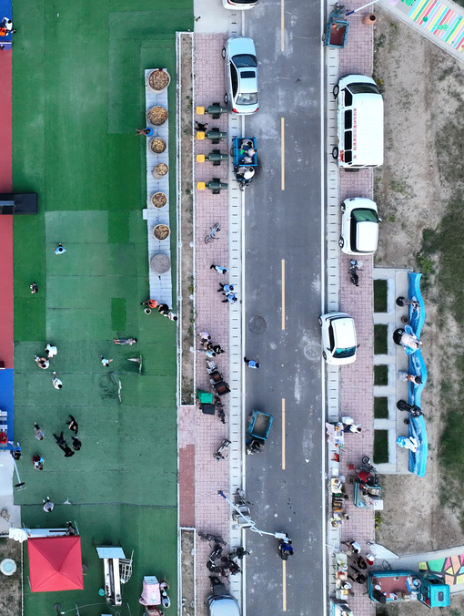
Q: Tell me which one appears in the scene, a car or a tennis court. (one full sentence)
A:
The image shows a car.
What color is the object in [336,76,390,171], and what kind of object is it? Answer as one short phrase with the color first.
white vehicle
